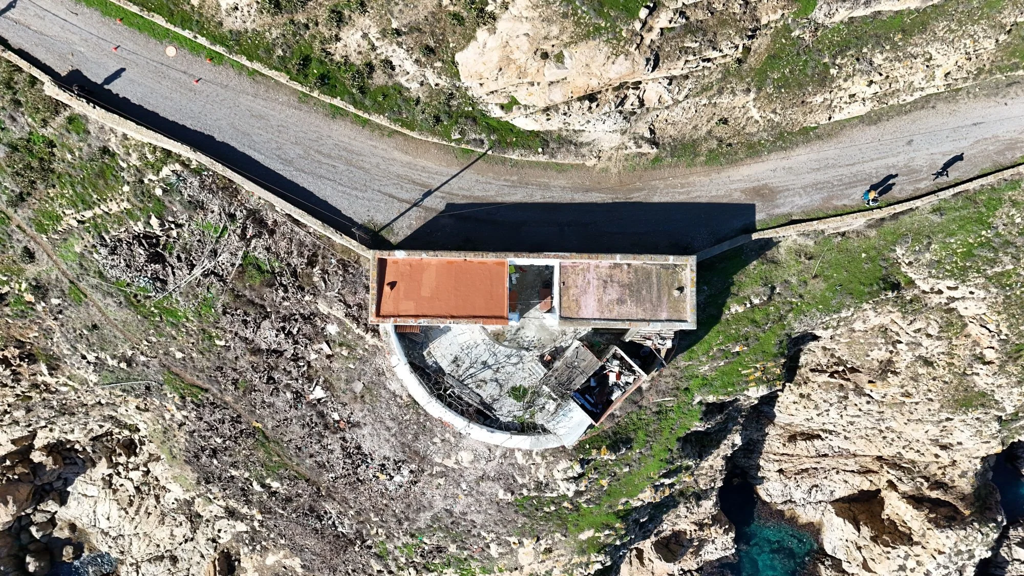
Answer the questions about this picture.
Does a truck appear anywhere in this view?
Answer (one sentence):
No, no truck is visible in the view.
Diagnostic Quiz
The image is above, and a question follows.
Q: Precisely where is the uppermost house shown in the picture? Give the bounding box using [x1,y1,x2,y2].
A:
[370,250,696,328]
